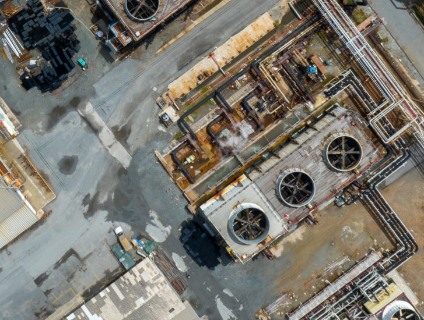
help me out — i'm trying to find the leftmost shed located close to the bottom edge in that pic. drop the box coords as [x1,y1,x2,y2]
[64,249,186,320]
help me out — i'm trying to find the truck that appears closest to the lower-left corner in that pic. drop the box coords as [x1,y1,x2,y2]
[113,226,138,257]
